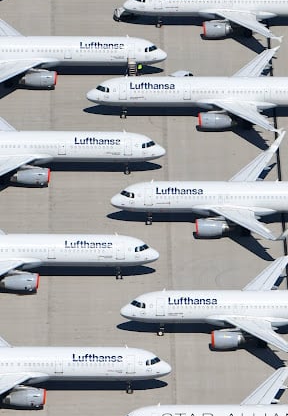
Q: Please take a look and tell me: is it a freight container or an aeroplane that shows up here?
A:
aeroplane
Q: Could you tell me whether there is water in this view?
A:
No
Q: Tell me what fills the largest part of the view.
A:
paved ground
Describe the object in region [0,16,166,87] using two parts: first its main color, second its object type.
white airplane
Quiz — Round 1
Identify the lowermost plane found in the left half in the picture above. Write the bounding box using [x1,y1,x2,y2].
[0,334,172,406]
